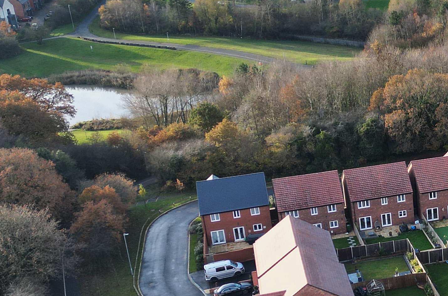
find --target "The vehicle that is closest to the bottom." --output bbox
[212,280,254,296]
